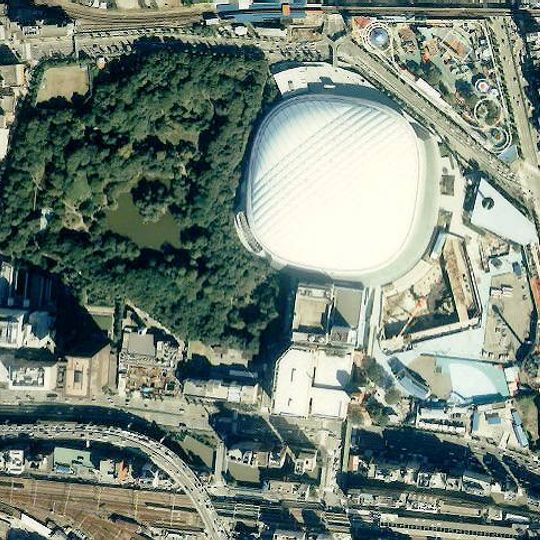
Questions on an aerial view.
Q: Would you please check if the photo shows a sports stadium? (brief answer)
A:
Yes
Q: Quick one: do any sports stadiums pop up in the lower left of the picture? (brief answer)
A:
No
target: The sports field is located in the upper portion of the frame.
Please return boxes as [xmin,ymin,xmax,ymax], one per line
[35,65,92,107]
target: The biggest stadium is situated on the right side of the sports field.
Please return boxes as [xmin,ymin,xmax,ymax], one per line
[246,90,441,286]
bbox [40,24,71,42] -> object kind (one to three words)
building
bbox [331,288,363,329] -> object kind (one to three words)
building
